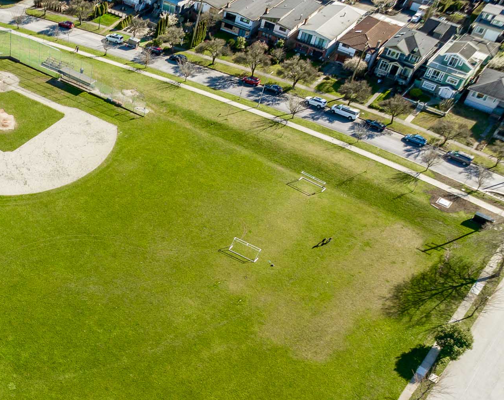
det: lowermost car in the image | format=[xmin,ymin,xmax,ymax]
[445,152,473,166]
